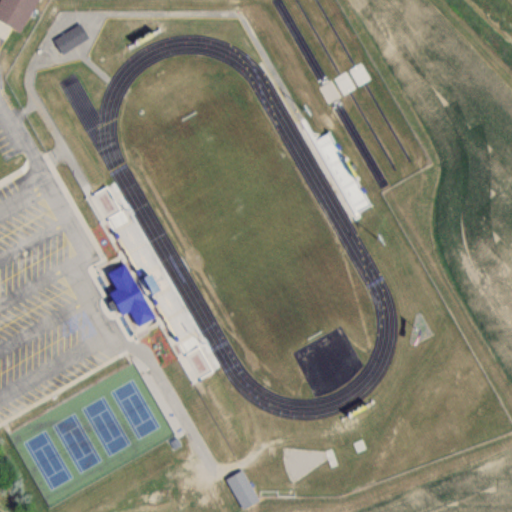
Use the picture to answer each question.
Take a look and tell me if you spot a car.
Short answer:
No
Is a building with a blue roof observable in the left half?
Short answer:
Yes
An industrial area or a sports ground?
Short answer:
sports ground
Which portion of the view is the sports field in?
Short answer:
center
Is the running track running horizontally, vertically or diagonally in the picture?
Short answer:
diagonally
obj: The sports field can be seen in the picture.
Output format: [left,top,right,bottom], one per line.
[120,54,378,400]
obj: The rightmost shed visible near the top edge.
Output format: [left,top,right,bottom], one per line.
[54,23,87,53]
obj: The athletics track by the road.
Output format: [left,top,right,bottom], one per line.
[60,34,398,420]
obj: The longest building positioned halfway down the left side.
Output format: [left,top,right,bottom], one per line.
[106,264,153,327]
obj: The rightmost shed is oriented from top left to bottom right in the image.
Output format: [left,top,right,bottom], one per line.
[226,472,259,510]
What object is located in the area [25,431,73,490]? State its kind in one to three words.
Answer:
tennis court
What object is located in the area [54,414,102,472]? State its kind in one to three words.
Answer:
tennis court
